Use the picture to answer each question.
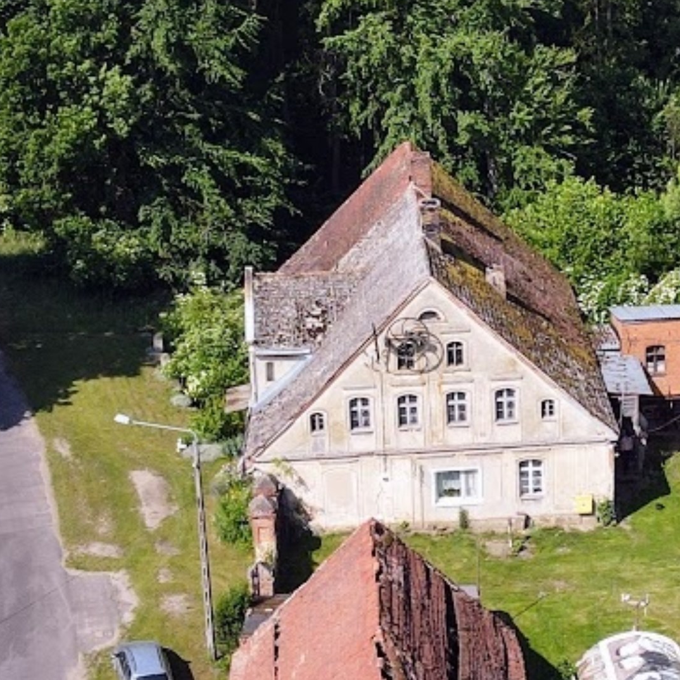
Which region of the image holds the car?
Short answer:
bottom left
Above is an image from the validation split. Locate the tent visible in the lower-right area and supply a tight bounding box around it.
[578,636,680,680]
